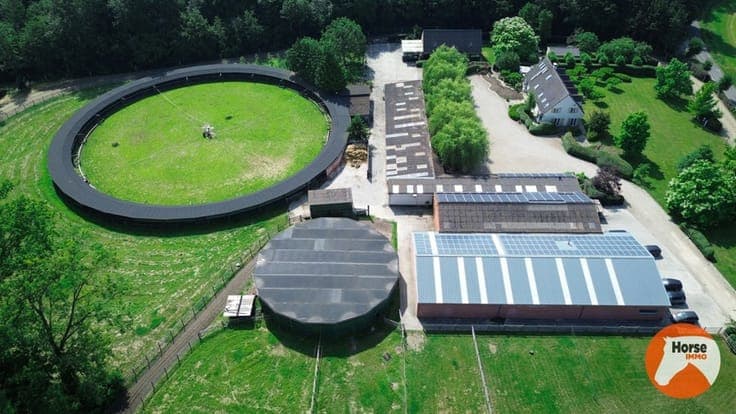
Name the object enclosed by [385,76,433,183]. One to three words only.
building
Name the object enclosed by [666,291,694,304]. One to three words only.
vehicle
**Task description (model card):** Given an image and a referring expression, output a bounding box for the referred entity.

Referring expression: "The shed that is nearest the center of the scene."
[308,187,353,213]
